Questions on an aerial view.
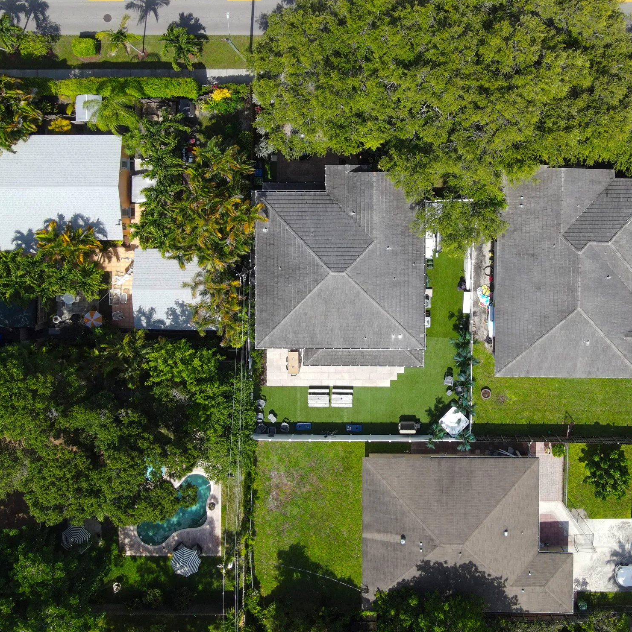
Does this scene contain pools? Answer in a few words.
Yes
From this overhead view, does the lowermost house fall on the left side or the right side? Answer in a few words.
right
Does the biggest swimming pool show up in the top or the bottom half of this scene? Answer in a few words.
bottom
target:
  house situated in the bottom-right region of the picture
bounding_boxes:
[361,452,574,614]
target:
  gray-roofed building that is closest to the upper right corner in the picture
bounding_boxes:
[491,168,632,379]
